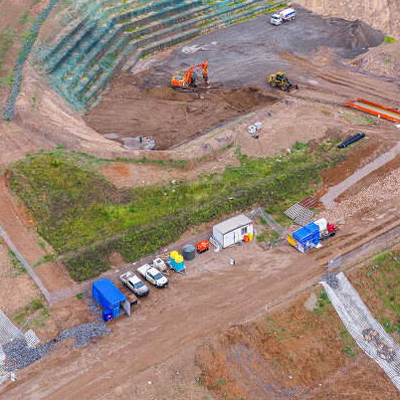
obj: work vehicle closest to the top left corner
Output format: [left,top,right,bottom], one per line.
[168,67,205,94]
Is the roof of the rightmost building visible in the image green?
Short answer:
No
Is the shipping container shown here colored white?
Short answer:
No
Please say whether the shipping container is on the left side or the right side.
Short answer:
left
